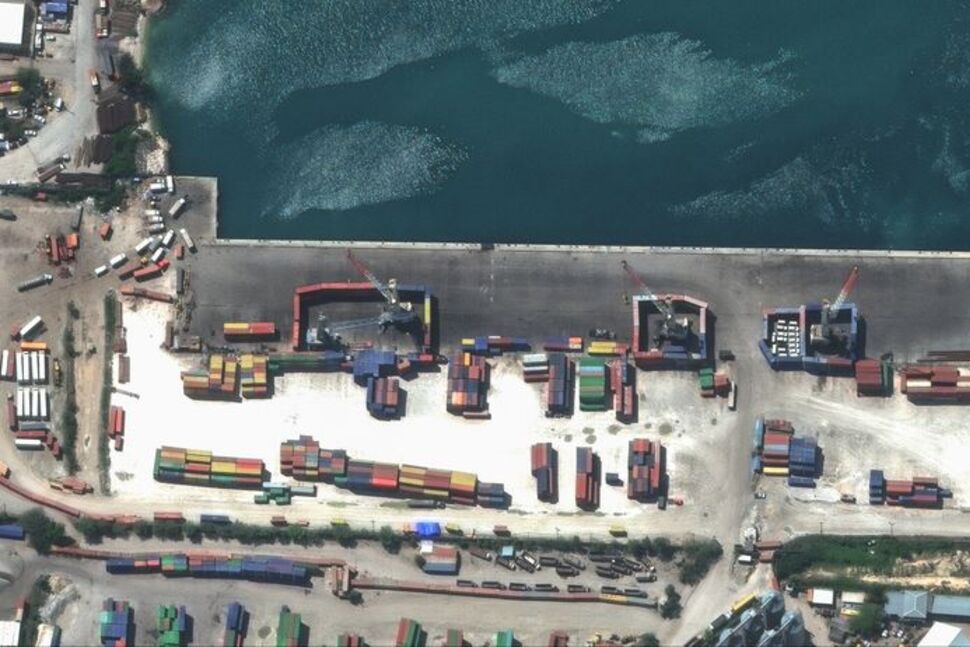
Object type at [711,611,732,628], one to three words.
vehicle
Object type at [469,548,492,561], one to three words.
vehicle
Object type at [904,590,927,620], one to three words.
building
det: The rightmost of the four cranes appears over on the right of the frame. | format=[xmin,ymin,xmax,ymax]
[808,266,857,345]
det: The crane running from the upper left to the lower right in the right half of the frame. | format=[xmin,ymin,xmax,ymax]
[621,261,691,344]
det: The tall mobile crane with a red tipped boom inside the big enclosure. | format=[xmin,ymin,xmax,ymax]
[347,254,414,326]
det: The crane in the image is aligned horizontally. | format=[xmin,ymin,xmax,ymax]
[301,316,395,350]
